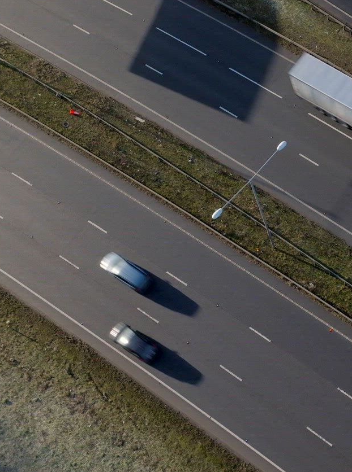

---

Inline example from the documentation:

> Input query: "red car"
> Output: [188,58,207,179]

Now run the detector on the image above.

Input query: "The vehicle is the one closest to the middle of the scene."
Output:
[102,254,153,294]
